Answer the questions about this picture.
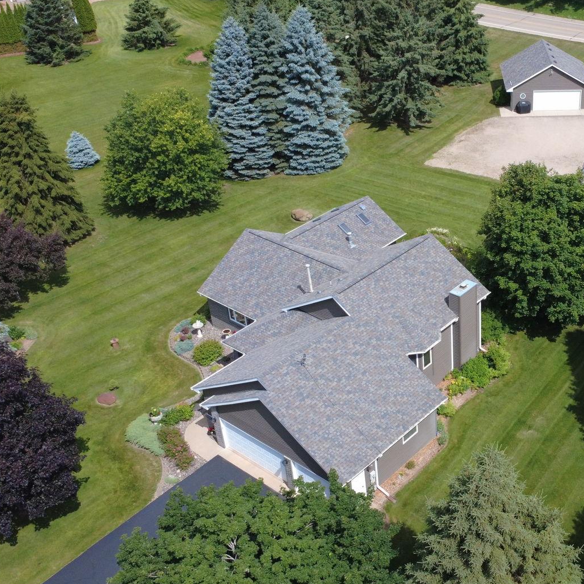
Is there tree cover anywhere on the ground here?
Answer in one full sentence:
Yes, tree cover shows up in the scene.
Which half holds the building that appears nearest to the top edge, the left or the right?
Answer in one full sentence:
It is on the right.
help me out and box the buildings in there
[500,40,584,112]
[190,196,492,514]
